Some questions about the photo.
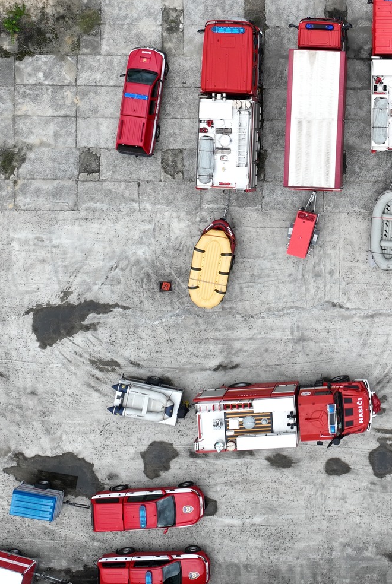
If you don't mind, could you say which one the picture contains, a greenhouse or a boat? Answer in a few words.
boat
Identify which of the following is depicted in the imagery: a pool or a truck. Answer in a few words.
truck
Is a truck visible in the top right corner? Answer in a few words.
Yes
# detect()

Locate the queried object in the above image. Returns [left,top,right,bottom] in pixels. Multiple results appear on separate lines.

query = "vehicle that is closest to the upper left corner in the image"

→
[116,45,173,161]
